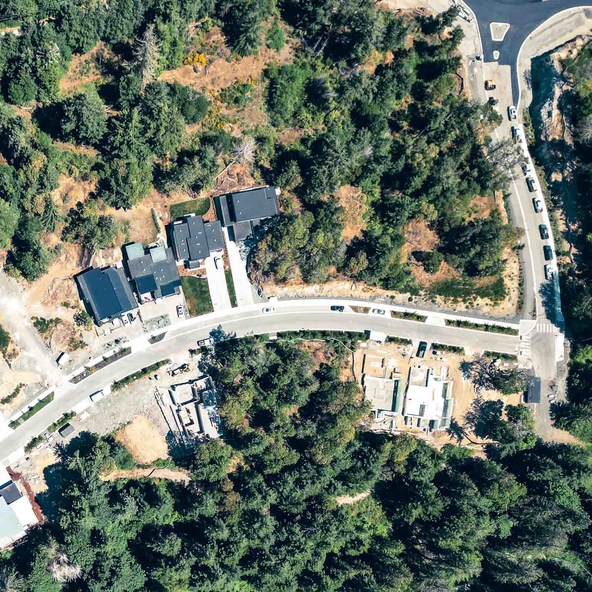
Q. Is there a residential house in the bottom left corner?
Yes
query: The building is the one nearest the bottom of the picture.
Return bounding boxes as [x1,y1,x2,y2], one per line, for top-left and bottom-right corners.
[0,483,38,549]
